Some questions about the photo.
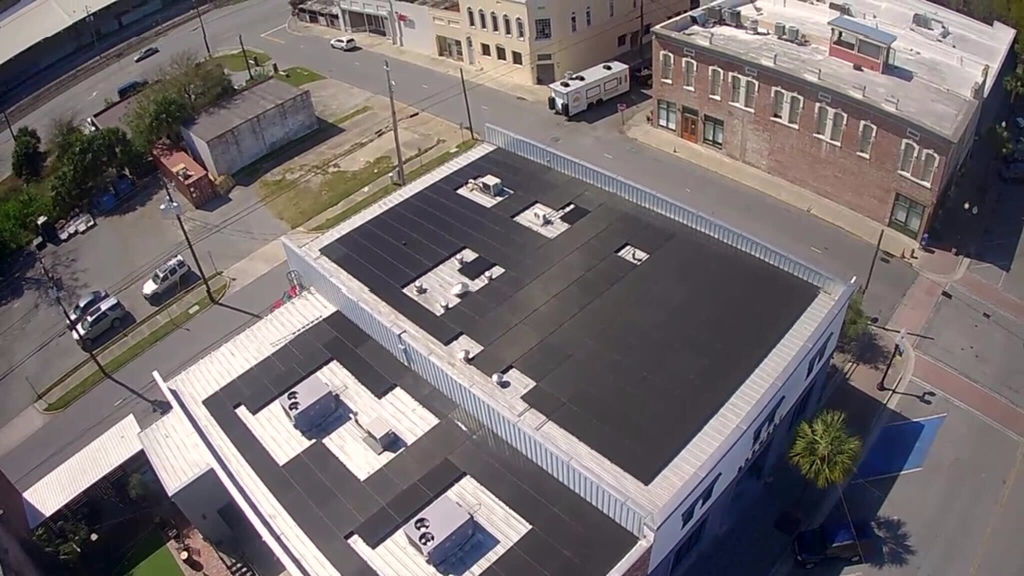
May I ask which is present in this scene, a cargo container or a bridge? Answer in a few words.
cargo container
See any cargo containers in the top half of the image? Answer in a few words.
Yes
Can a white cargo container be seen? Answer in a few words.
No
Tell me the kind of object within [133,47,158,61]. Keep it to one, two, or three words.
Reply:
car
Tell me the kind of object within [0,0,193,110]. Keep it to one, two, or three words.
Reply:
warehouse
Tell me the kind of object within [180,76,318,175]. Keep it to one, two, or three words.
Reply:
building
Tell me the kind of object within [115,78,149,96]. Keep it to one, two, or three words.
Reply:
vehicle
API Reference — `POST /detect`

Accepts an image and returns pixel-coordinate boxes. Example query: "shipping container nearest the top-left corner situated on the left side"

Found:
[152,134,215,206]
